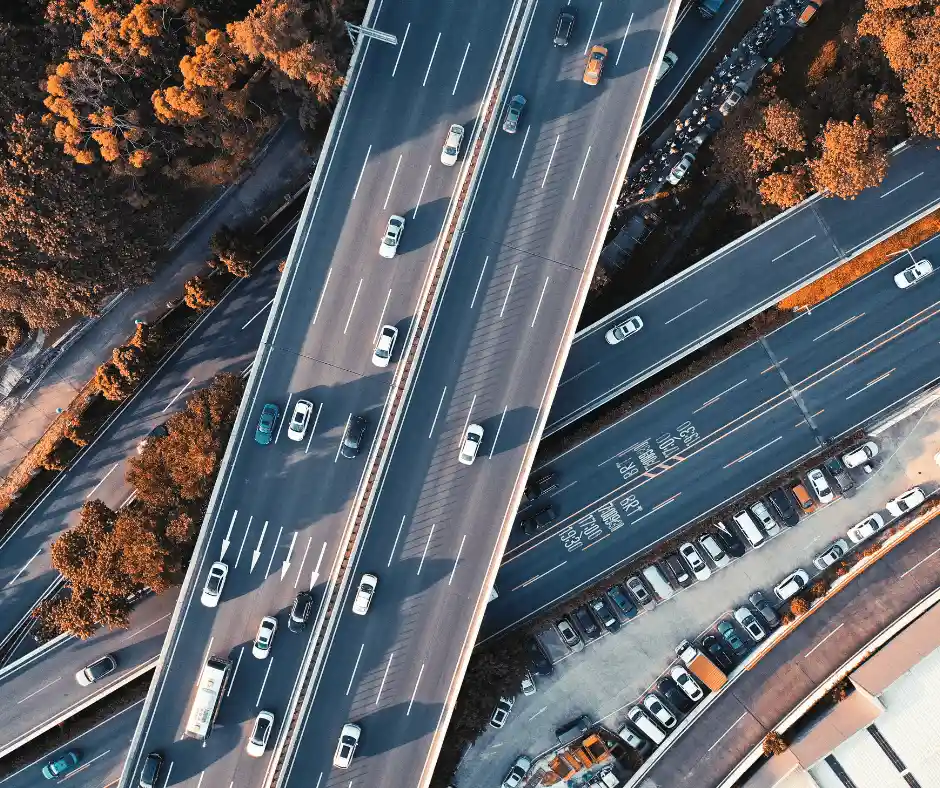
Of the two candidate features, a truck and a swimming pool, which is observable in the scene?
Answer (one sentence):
This aerial view contains a truck.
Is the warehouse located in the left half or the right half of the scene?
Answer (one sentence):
You can find the warehouse on the right side of the picture.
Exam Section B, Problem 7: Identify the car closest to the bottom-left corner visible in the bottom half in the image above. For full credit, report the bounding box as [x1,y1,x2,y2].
[42,748,83,779]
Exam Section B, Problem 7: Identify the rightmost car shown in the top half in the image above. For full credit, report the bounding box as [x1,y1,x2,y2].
[890,258,933,290]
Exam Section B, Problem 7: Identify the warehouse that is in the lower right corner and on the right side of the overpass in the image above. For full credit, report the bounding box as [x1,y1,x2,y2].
[738,604,940,788]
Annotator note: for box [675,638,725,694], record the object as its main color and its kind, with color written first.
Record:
orange truck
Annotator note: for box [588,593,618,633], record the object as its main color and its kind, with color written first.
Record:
black car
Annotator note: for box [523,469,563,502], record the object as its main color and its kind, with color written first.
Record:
black van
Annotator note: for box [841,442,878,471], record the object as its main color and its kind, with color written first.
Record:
white car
